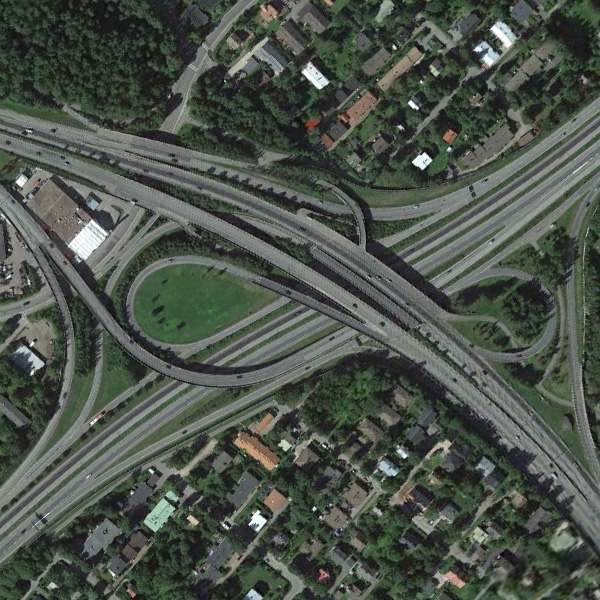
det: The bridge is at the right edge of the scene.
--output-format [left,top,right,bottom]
[572,369,600,489]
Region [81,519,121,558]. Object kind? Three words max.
building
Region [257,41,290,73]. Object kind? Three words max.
house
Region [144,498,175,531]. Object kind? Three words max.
building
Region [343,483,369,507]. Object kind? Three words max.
house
